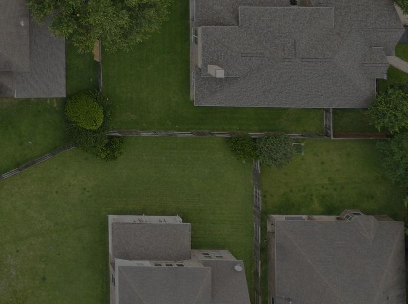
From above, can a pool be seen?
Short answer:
No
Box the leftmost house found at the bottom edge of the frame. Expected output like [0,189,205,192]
[105,215,248,304]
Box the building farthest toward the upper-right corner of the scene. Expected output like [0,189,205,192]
[186,0,408,108]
